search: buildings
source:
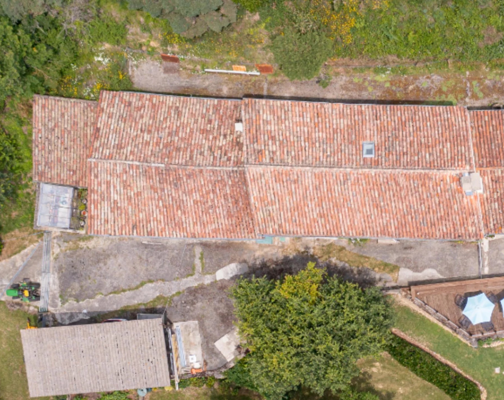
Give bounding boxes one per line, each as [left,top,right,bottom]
[20,318,176,398]
[32,88,504,245]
